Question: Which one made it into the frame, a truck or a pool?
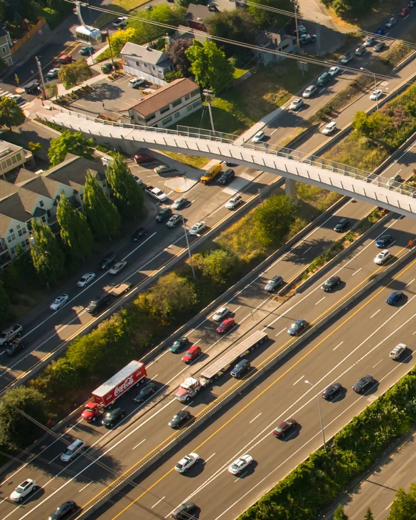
truck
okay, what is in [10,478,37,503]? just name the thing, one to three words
car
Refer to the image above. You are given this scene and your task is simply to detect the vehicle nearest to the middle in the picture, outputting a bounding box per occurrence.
[189,222,205,236]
